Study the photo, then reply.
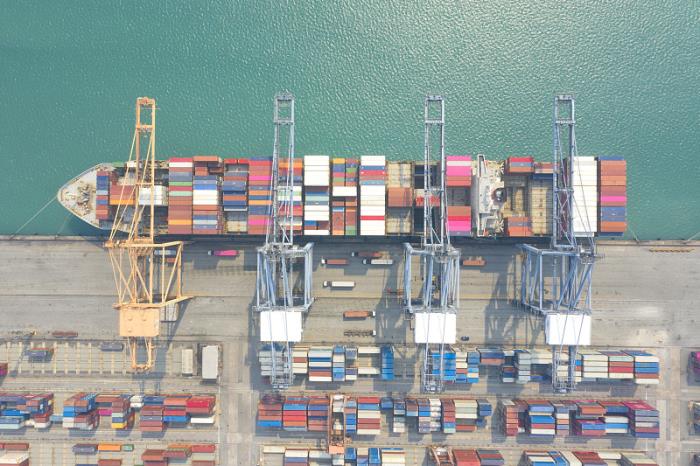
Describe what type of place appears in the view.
port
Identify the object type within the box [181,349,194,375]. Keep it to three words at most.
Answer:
shed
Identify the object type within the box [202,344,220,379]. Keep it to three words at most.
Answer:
shed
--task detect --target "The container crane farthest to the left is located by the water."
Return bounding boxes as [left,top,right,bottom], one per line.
[100,90,204,371]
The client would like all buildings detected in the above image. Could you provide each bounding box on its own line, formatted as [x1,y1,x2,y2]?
[181,349,194,375]
[202,344,220,379]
